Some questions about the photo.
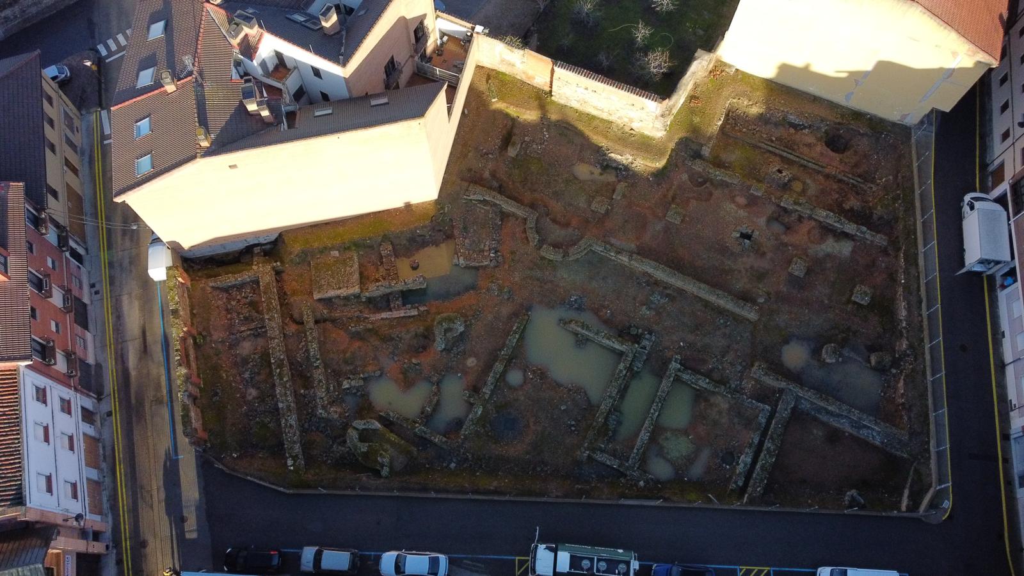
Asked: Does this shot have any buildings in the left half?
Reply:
Yes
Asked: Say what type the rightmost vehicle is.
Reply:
truck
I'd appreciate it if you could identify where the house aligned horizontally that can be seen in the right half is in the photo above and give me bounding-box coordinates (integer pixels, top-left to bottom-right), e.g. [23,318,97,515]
[719,0,1024,125]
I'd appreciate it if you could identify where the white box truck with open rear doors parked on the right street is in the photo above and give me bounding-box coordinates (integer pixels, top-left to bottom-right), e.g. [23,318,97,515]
[949,200,1012,286]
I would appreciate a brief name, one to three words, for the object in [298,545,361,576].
car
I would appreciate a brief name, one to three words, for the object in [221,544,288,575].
car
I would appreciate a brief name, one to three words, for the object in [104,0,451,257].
house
